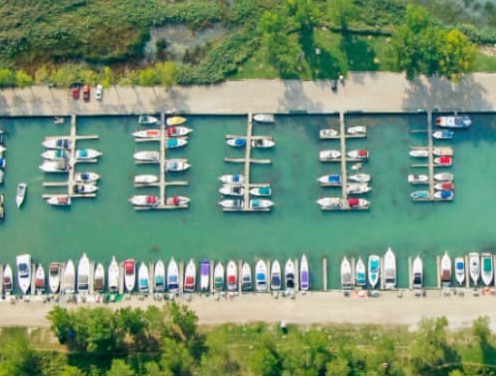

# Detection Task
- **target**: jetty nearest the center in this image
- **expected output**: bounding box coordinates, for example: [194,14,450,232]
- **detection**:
[223,115,271,212]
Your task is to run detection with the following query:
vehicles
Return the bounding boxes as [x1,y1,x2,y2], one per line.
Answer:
[72,85,78,99]
[96,85,103,99]
[82,84,90,100]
